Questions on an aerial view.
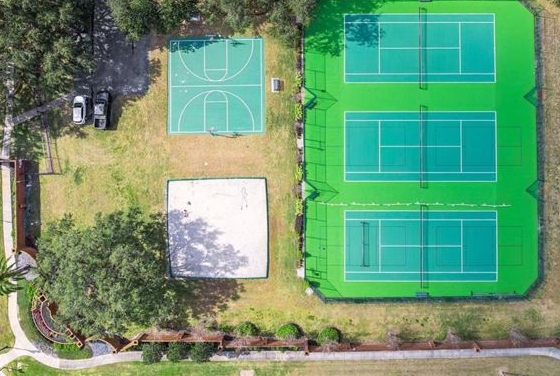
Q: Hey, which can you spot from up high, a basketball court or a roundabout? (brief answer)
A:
basketball court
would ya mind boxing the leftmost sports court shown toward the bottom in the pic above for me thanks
[168,178,269,279]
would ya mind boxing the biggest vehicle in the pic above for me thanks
[92,90,109,129]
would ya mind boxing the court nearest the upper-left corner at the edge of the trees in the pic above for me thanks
[168,36,266,134]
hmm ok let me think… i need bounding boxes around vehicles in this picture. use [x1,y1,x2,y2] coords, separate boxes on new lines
[71,96,87,124]
[92,90,109,129]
